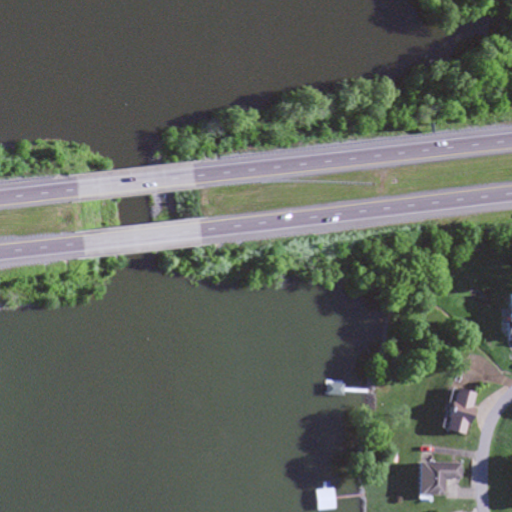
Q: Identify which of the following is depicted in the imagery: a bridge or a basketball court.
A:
bridge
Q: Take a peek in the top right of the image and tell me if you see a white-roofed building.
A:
No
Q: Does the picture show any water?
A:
Yes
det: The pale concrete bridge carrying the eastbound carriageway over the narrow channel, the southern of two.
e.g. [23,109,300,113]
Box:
[79,216,206,260]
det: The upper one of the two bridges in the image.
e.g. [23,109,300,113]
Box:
[74,160,200,203]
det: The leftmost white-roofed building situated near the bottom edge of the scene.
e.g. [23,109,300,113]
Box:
[316,486,338,510]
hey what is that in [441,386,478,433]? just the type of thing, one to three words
house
